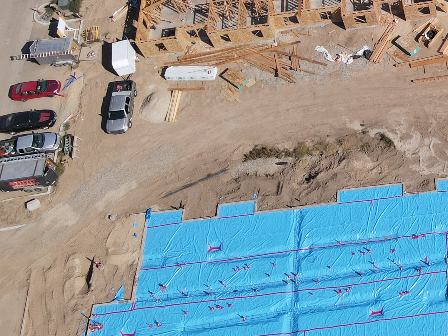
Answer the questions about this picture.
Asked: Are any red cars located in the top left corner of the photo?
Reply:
Yes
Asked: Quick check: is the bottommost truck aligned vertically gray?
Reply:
Yes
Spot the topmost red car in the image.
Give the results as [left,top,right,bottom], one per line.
[7,77,63,104]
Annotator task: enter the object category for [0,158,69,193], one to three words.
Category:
trailer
